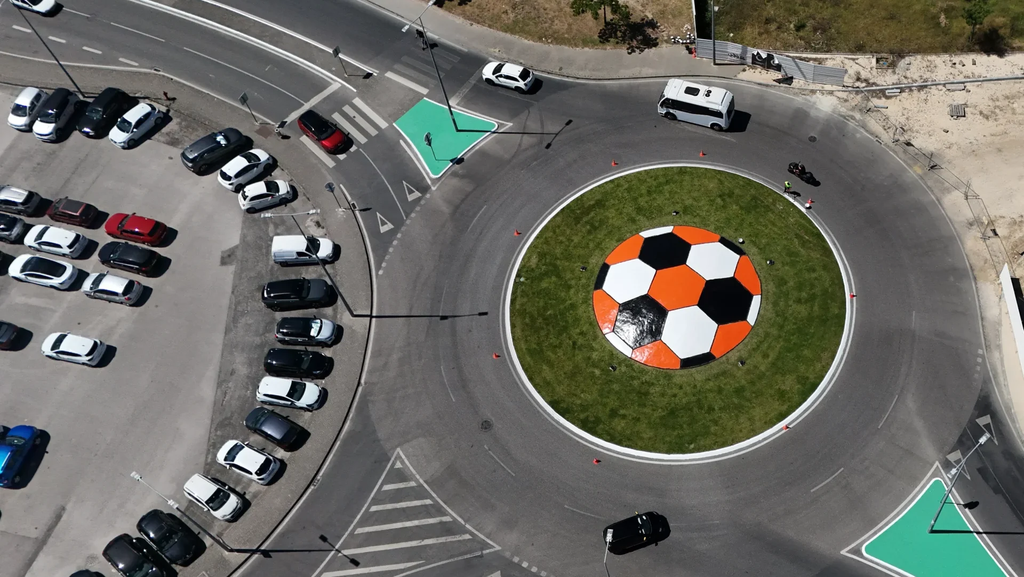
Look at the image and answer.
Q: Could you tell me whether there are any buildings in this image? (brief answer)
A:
No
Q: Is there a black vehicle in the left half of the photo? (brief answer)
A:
Yes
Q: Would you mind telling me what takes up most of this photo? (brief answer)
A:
paved ground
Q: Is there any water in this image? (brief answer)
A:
No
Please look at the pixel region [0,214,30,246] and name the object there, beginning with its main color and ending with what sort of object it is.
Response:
black car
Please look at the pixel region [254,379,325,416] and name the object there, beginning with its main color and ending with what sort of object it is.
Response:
white car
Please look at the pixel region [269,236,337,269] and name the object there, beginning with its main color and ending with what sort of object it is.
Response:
white vehicle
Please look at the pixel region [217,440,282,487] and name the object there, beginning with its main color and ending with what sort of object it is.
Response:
white car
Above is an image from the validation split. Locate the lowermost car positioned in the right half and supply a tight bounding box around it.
[603,509,675,554]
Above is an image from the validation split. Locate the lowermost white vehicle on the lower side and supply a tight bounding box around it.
[176,467,242,523]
